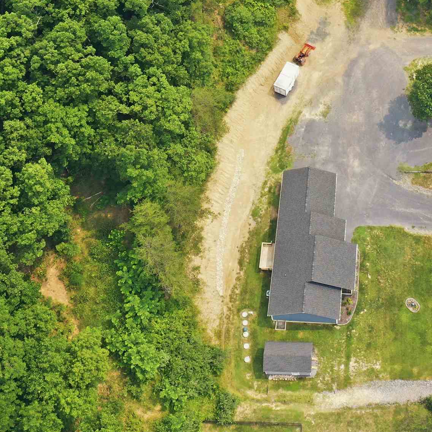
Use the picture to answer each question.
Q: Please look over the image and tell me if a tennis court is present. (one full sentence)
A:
No, no tennis court is visible in the scene.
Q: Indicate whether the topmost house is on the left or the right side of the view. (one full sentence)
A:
The topmost house sits on the right side.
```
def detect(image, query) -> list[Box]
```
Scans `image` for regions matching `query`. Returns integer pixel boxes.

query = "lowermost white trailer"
[273,65,298,103]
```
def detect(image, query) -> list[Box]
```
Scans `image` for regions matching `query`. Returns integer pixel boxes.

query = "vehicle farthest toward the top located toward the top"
[293,48,313,69]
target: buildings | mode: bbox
[263,343,319,376]
[261,168,357,334]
